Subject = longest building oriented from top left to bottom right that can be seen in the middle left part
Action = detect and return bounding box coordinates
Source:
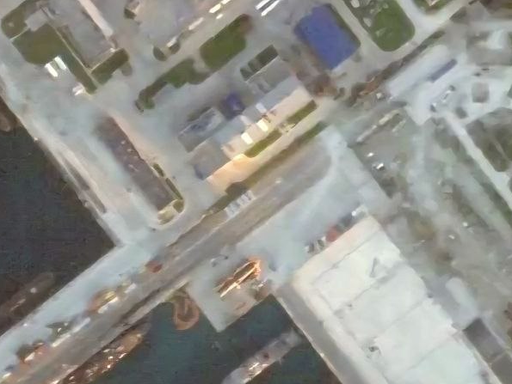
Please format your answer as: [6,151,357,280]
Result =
[98,116,174,210]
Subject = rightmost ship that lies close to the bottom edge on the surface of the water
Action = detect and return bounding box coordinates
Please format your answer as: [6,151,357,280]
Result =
[223,326,303,384]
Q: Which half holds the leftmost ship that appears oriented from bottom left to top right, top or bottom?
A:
bottom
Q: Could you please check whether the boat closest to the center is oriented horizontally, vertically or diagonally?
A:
diagonally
